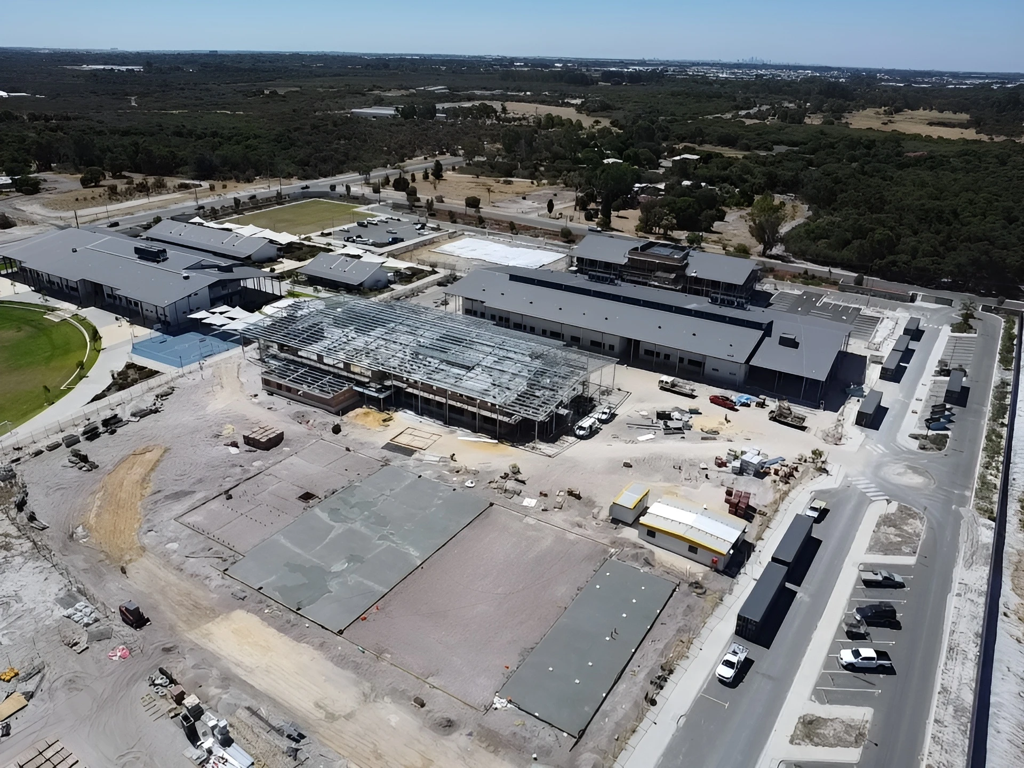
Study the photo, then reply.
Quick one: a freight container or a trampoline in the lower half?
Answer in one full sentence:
The one visible in the lower half is a freight container.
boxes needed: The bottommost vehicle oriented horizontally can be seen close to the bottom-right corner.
[840,650,895,673]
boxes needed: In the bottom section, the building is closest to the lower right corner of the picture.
[637,482,753,568]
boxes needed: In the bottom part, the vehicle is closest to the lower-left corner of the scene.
[119,607,148,635]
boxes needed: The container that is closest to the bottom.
[735,560,788,640]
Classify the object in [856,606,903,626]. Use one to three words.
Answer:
car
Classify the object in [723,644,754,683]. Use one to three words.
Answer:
truck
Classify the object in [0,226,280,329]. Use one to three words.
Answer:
building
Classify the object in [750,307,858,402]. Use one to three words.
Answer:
building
